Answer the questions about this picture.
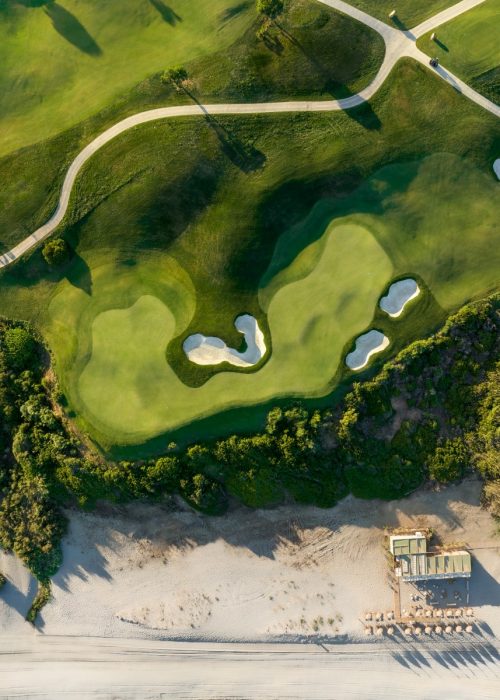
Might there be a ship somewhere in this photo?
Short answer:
No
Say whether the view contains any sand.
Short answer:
Yes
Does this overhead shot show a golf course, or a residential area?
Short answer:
golf course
